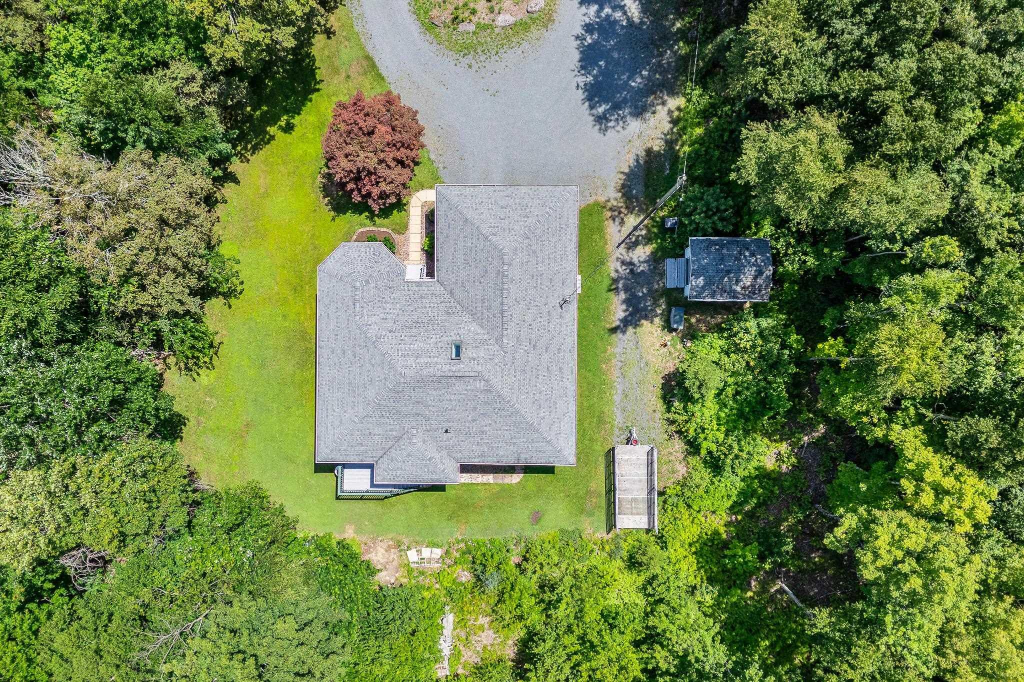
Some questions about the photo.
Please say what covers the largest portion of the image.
trees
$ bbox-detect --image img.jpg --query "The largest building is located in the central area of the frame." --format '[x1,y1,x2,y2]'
[314,183,581,486]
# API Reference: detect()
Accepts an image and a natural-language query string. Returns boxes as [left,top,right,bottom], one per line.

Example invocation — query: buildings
[685,237,775,302]
[314,183,581,486]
